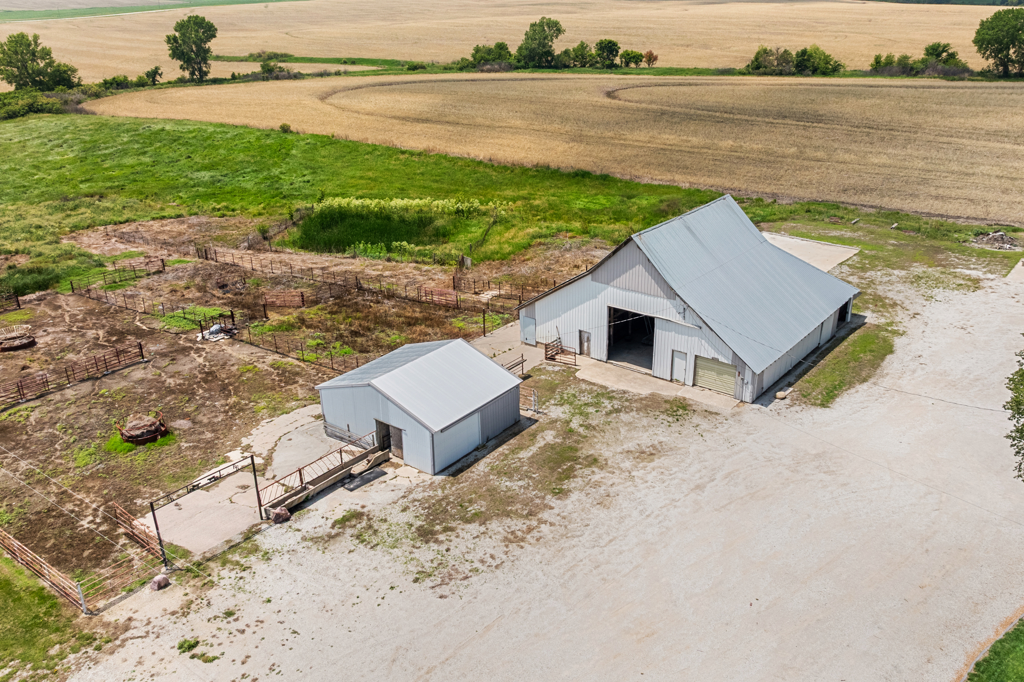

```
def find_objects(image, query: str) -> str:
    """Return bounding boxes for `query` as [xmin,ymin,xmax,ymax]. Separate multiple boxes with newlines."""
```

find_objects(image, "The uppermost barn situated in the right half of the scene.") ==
[515,193,859,404]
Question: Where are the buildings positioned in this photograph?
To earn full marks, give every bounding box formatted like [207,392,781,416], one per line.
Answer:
[314,337,524,476]
[515,193,859,404]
